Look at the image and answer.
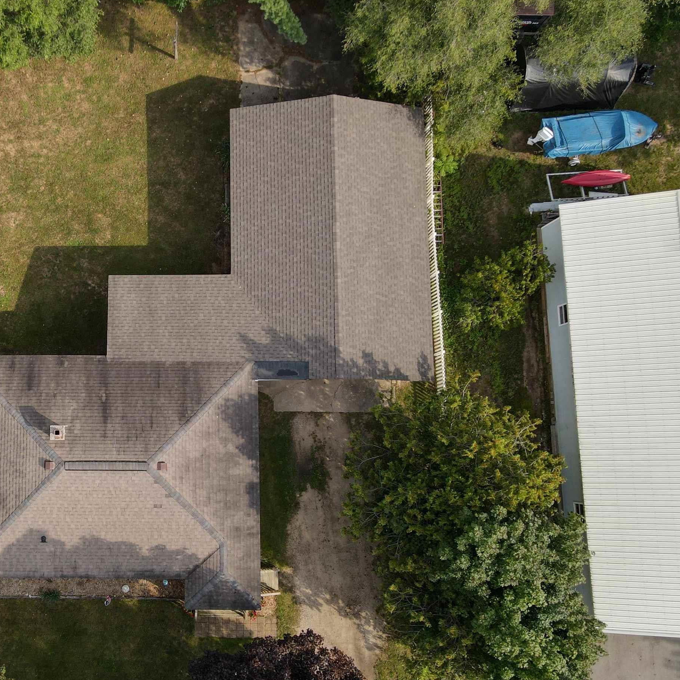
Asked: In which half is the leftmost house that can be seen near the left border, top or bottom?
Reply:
bottom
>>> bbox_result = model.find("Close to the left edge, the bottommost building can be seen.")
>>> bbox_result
[0,354,263,613]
